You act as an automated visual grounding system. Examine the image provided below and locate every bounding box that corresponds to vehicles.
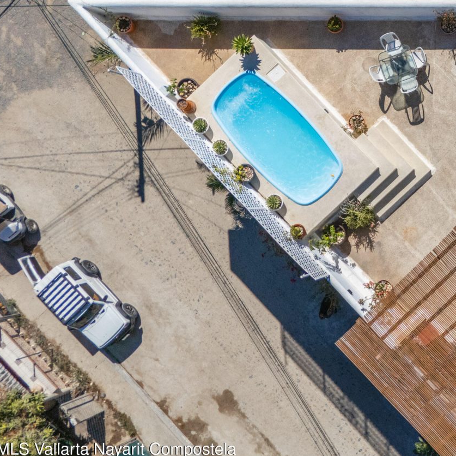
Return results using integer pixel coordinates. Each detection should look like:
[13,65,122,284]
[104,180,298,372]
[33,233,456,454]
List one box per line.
[0,176,43,258]
[4,260,146,358]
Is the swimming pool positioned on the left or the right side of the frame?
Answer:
right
